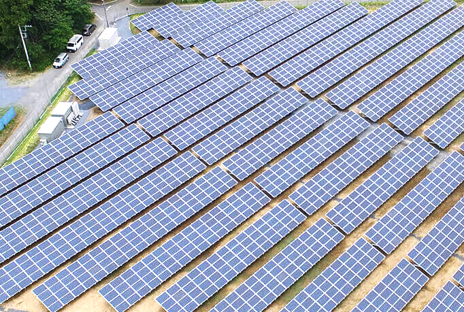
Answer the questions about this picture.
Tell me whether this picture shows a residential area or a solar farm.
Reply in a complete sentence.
This image shows a solar farm.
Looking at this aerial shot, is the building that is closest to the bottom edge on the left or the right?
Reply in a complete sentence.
The building that is closest to the bottom edge is on the left side of the image.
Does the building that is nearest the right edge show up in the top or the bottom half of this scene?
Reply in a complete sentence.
The top half of the photo is where the building that is nearest the right edge is.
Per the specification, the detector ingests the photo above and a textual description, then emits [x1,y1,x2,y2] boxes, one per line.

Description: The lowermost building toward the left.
[38,116,65,147]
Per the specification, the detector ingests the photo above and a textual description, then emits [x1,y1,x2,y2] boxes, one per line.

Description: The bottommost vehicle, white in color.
[51,50,71,66]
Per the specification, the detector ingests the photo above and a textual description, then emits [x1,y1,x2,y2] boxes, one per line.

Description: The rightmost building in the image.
[96,27,126,53]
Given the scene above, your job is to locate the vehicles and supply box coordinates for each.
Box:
[66,32,86,51]
[51,50,71,66]
[83,23,99,37]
